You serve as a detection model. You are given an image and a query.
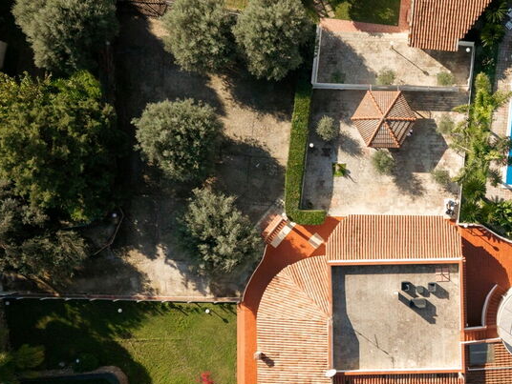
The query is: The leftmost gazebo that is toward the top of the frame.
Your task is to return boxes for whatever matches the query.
[350,88,418,149]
